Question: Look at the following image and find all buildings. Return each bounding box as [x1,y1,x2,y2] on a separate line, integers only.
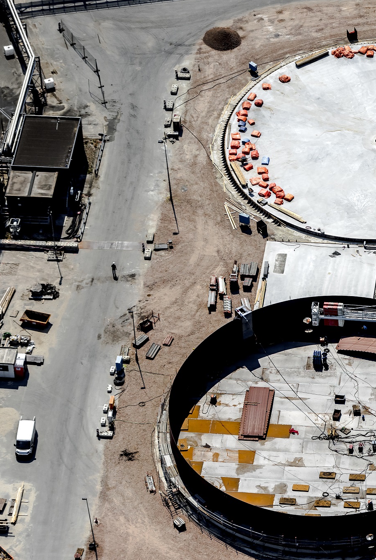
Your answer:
[0,346,18,381]
[4,113,84,232]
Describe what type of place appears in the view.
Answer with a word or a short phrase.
industrial area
